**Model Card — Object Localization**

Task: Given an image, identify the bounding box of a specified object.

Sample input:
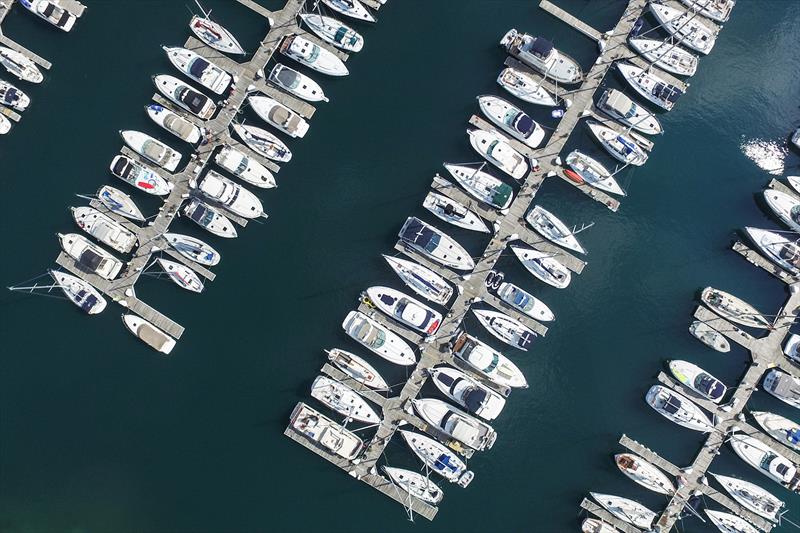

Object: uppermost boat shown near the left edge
[12,0,76,31]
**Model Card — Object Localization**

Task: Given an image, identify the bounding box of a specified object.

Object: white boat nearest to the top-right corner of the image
[687,0,737,22]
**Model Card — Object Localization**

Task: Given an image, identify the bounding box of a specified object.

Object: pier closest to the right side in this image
[580,178,800,533]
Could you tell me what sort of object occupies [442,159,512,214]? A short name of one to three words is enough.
boat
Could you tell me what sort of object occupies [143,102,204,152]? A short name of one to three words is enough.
boat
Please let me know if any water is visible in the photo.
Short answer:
Yes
